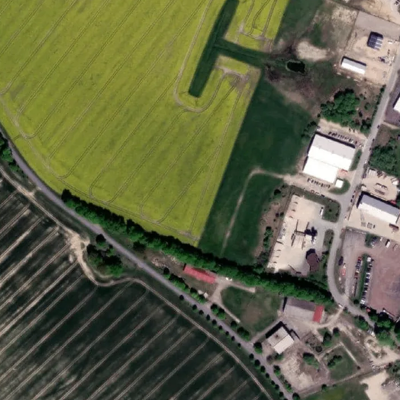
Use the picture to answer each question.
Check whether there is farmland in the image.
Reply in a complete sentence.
Yes, farmland shows up in the scene.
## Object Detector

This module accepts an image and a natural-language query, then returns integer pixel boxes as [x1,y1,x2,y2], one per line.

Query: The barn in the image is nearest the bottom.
[267,326,297,353]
